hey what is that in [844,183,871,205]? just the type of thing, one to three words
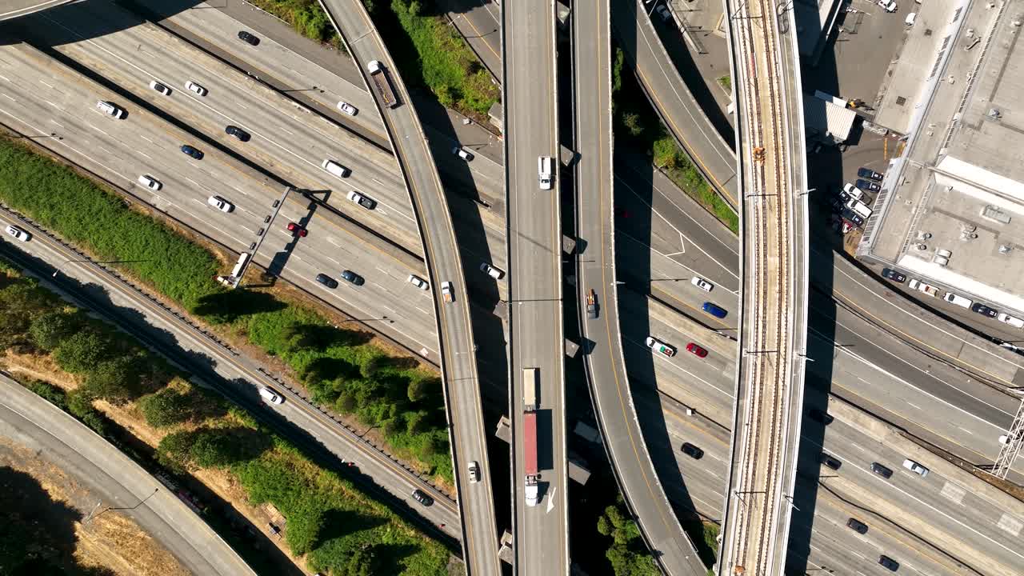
truck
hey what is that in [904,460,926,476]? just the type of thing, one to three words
car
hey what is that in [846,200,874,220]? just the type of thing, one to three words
vehicle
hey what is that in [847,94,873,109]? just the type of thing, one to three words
work vehicle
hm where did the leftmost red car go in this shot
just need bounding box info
[286,222,308,238]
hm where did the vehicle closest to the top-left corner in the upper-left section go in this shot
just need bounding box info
[95,99,124,120]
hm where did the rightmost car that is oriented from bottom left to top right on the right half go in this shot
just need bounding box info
[836,219,854,236]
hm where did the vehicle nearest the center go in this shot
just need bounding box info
[480,263,502,280]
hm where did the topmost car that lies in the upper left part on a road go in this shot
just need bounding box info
[239,30,260,46]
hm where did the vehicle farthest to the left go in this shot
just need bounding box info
[5,224,30,241]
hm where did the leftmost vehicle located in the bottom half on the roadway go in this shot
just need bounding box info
[259,387,282,403]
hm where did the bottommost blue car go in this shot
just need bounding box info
[703,301,725,318]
